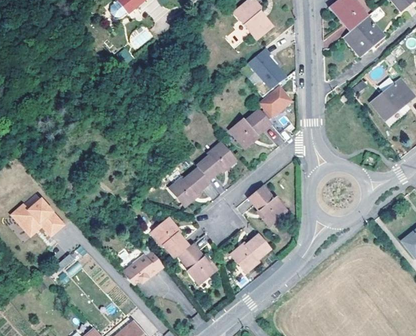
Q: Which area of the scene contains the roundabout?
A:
right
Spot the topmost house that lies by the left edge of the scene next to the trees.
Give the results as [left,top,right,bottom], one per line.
[10,198,66,238]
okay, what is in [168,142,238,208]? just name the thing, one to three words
house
